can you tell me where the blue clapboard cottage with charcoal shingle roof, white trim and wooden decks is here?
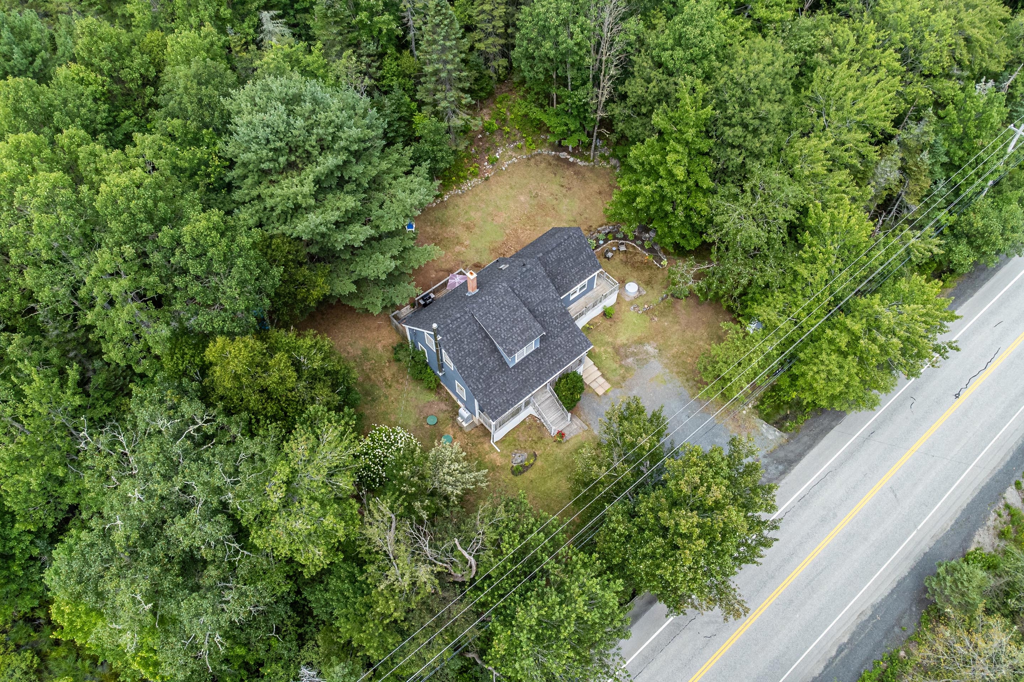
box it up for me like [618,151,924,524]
[387,228,620,454]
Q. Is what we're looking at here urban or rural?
rural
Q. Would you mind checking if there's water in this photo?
No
